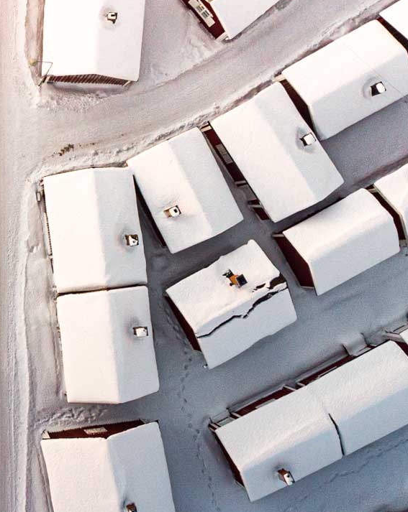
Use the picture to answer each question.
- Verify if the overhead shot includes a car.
No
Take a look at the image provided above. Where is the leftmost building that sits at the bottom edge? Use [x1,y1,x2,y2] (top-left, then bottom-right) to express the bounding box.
[42,417,175,512]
